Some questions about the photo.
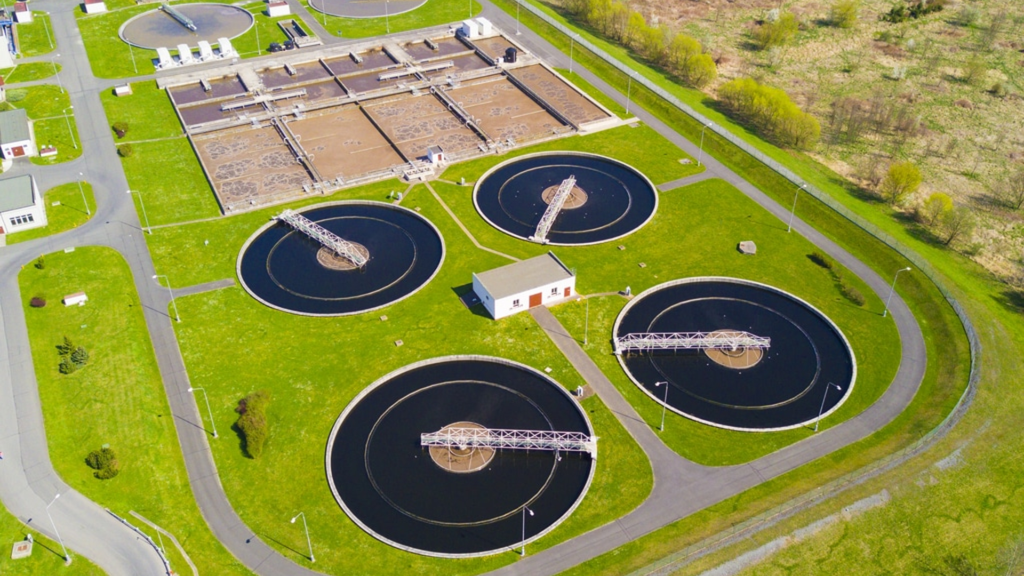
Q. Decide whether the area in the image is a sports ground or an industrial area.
industrial area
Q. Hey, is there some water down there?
Yes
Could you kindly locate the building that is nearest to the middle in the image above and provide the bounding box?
[471,245,576,319]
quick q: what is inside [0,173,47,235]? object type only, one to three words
building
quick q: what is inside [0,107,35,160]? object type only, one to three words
building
